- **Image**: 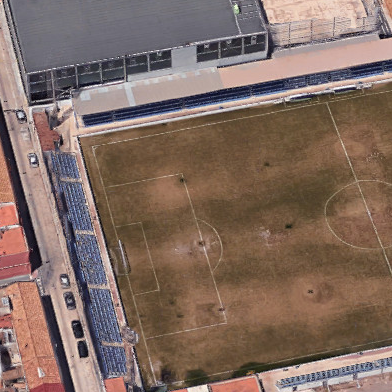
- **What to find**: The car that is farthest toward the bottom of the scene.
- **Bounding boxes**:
[76,340,90,359]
